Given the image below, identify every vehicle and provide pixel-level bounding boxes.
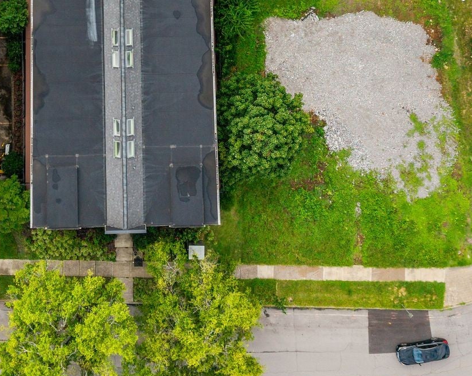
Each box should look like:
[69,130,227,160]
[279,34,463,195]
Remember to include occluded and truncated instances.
[393,336,450,368]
